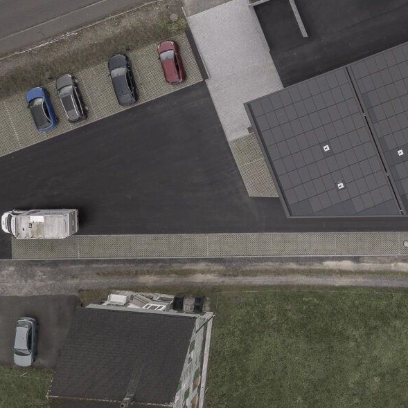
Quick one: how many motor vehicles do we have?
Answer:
six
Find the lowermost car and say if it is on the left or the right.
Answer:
left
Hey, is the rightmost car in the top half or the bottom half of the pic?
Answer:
top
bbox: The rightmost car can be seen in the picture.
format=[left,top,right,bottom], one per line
[158,40,188,83]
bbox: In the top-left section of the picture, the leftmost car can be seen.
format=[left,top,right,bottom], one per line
[27,88,58,131]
